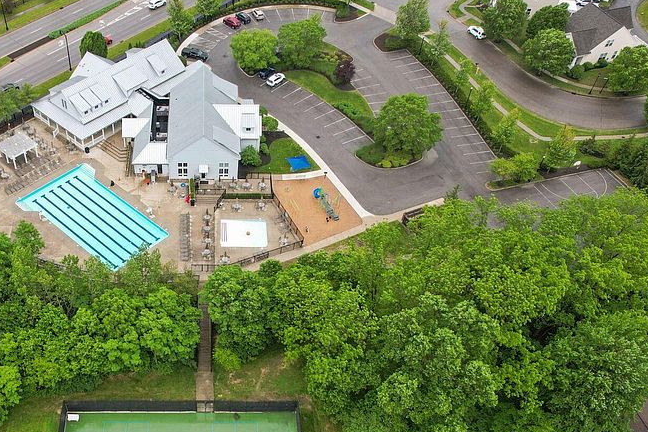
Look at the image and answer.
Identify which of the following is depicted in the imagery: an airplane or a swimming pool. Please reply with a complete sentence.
There is a swimming pool in the scene.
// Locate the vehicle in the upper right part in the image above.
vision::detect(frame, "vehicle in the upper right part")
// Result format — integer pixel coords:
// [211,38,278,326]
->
[468,23,488,39]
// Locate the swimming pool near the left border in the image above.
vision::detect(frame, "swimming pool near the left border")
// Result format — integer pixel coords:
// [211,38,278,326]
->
[13,161,172,272]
